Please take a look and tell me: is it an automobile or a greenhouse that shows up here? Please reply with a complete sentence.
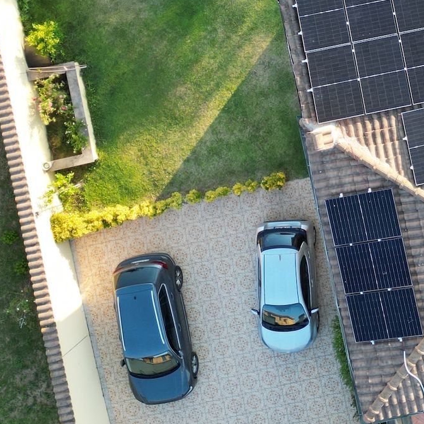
The image shows an automobile.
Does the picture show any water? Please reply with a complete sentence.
No, there's no water in this view.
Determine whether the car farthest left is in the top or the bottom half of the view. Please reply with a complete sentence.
Seen from above, the car farthest left lies in the bottom half of the view.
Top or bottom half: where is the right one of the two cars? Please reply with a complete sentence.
It is in the bottom half that the right one of the two cars appears.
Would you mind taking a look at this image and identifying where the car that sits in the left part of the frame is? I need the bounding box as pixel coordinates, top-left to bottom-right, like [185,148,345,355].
[107,246,200,409]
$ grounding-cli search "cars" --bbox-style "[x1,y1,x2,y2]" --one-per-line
[107,246,200,409]
[249,217,320,355]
